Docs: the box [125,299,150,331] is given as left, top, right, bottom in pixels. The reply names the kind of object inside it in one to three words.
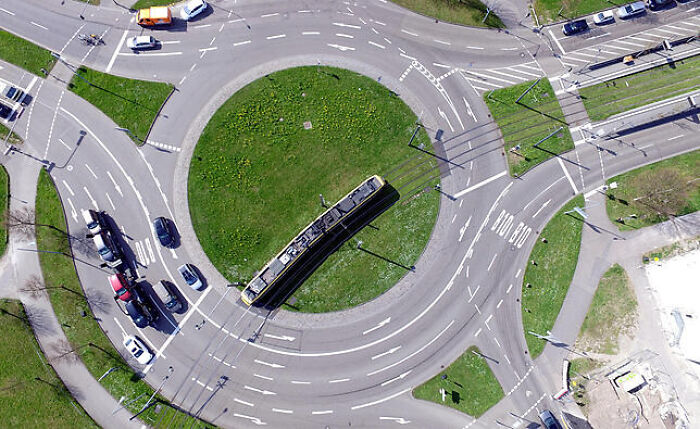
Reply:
car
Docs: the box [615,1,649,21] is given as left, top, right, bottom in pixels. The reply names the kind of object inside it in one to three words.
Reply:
car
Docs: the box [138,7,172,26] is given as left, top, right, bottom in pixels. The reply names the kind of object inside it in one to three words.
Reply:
vehicle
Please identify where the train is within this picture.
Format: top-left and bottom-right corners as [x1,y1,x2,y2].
[241,171,389,303]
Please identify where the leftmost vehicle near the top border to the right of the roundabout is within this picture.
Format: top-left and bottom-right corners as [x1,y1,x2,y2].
[560,19,591,38]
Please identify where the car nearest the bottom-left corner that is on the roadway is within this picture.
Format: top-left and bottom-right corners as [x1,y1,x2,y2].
[124,333,152,364]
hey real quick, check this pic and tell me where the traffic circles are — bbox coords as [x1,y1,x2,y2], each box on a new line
[133,15,495,372]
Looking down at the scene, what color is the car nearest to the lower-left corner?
white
